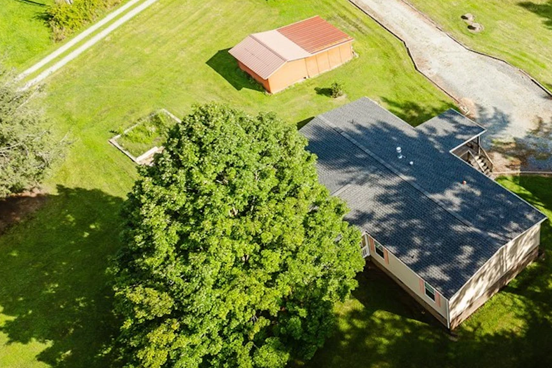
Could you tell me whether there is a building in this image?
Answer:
Yes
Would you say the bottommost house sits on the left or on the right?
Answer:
right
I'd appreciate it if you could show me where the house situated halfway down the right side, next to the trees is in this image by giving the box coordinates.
[288,97,548,333]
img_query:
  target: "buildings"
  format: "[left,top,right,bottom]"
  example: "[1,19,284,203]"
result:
[288,97,548,333]
[230,16,354,95]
